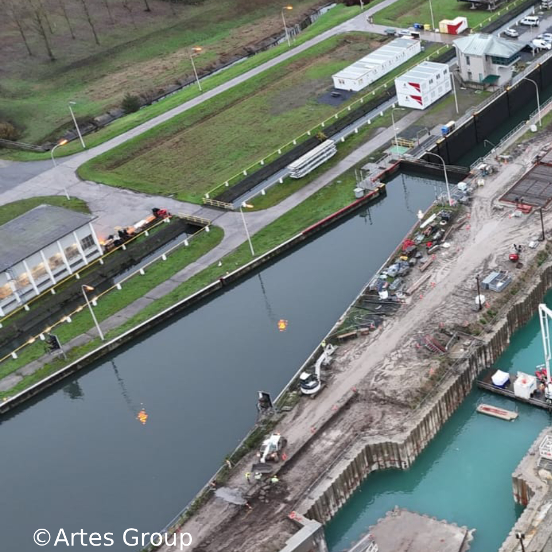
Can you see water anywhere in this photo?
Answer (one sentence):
Yes, there's water in this view.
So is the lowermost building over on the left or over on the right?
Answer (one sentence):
You can find the lowermost building on the left side of the picture.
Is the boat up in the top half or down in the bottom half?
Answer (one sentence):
The boat sits in the bottom half of the picture.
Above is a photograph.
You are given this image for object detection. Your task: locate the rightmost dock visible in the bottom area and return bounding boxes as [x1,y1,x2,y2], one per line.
[477,373,552,410]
